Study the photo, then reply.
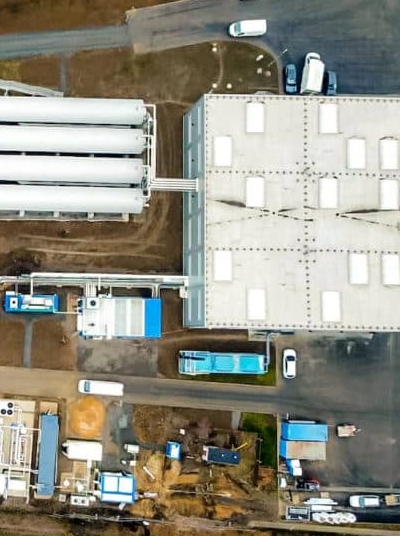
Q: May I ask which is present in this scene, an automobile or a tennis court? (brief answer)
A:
automobile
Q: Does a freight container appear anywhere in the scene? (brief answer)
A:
Yes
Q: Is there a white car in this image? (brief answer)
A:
Yes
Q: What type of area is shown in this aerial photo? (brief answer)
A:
industrial area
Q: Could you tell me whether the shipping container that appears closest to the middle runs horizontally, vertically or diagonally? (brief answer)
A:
horizontally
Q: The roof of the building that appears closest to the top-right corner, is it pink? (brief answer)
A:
No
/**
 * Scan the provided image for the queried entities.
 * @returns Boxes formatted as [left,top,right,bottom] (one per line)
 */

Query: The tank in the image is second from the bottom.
[0,156,145,185]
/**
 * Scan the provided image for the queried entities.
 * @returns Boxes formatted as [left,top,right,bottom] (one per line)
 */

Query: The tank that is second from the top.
[0,127,145,156]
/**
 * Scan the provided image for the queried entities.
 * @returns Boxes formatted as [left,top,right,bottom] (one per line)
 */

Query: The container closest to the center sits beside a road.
[179,350,267,376]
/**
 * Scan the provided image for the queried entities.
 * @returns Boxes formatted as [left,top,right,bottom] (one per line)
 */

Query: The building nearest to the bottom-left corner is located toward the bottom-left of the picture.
[55,460,100,497]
